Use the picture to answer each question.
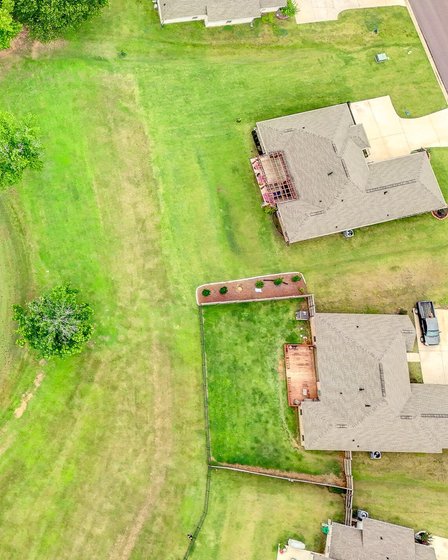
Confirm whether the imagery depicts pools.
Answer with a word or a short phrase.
No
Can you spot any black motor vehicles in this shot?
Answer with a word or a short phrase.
No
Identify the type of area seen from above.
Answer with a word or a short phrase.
residential area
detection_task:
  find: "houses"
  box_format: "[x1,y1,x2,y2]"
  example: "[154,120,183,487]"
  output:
[298,312,448,453]
[254,103,448,246]
[310,515,437,560]
[157,0,286,28]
